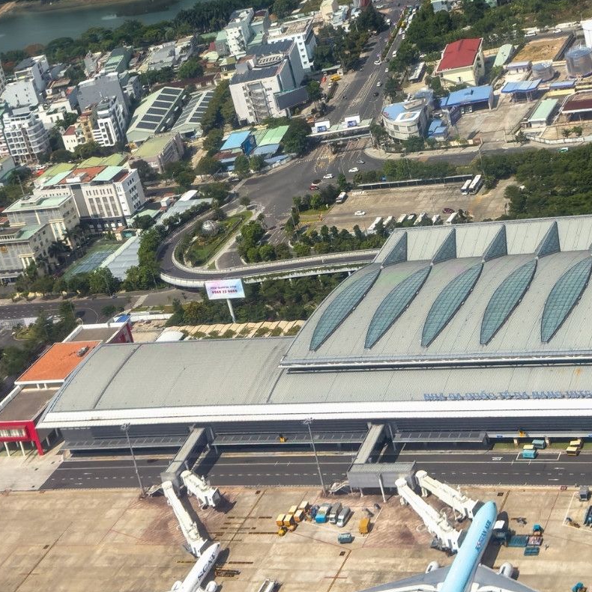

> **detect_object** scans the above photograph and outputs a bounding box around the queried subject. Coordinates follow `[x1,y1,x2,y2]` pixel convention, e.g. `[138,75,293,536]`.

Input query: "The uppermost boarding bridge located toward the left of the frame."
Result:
[184,468,228,517]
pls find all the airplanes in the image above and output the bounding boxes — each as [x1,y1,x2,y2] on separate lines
[340,501,549,592]
[144,545,221,592]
